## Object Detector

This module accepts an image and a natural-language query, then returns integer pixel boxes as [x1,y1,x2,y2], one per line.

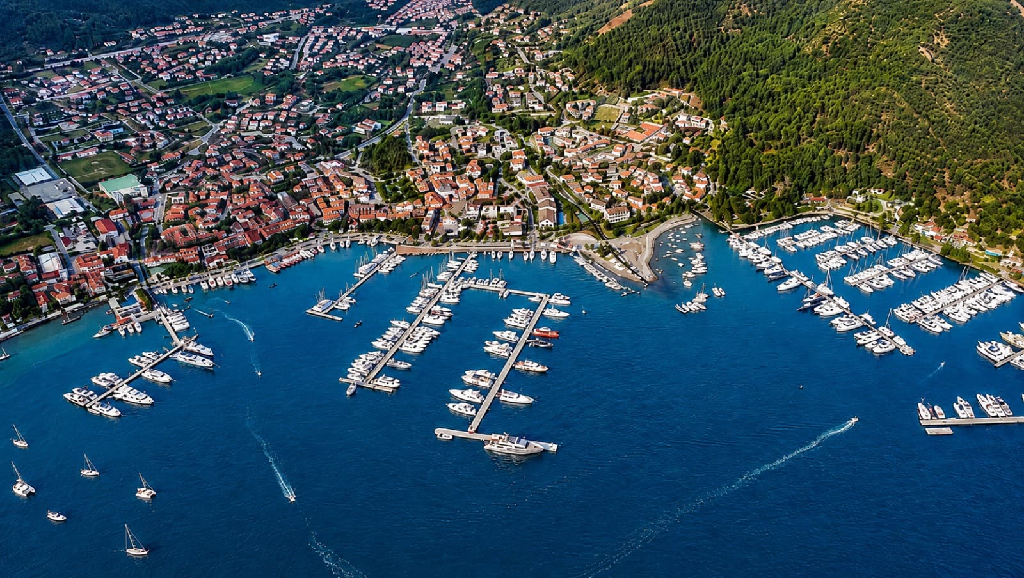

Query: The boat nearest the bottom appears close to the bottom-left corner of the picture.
[124,534,148,557]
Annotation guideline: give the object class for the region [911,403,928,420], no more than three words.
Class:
boat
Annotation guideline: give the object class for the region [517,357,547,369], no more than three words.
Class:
boat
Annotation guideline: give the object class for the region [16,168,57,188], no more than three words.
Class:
building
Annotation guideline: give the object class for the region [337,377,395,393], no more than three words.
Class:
pier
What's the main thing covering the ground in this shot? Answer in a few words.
water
